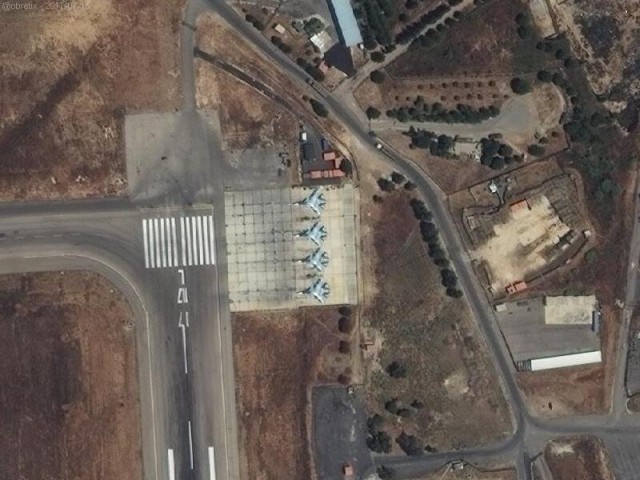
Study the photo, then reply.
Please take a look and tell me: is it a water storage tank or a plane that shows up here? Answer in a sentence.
Of the two, only a plane appears.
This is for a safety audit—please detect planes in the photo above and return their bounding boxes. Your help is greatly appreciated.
[297,277,330,303]
[294,188,328,214]
[294,221,328,248]
[296,248,328,273]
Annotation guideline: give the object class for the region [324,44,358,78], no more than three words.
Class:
building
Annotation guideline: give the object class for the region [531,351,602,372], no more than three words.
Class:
shed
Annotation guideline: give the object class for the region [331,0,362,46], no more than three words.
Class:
hangar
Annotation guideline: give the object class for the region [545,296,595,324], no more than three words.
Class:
building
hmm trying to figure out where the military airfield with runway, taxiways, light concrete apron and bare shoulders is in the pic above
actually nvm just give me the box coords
[0,0,358,480]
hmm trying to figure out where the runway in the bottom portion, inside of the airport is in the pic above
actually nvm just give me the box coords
[0,193,240,480]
